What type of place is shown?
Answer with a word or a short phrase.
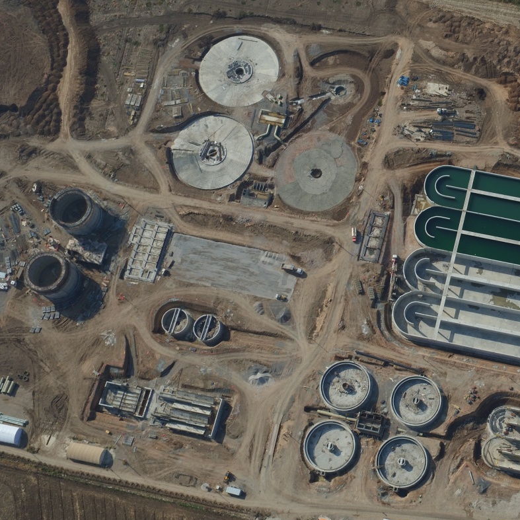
industrial area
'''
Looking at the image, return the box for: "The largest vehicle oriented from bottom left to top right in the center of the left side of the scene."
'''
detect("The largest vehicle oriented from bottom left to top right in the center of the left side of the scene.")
[7,268,27,285]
